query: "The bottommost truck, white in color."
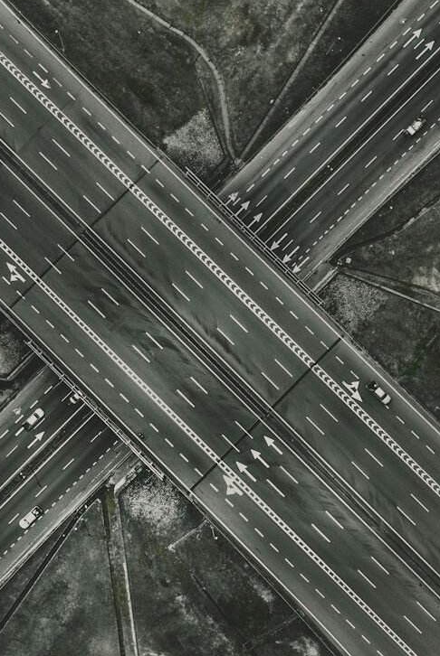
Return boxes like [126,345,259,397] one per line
[17,505,45,532]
